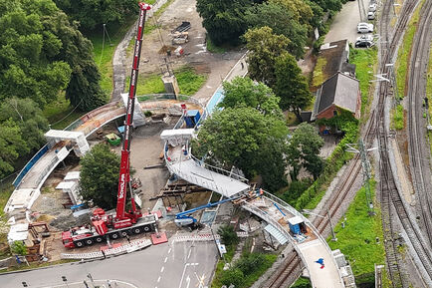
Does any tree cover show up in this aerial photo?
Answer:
Yes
